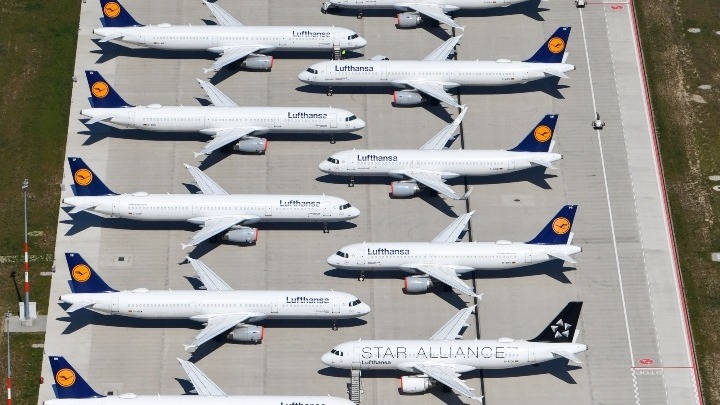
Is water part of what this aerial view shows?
No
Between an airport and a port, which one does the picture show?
airport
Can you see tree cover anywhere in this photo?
No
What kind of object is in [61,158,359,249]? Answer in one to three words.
airplane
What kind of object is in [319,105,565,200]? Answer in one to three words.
airplane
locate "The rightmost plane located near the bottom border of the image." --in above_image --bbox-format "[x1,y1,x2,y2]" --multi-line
[321,301,590,401]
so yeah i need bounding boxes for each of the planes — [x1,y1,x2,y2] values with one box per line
[319,105,565,200]
[321,301,590,401]
[92,0,366,75]
[59,253,370,350]
[61,158,359,249]
[326,206,584,300]
[329,0,518,29]
[44,356,358,405]
[298,27,577,110]
[79,71,365,157]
